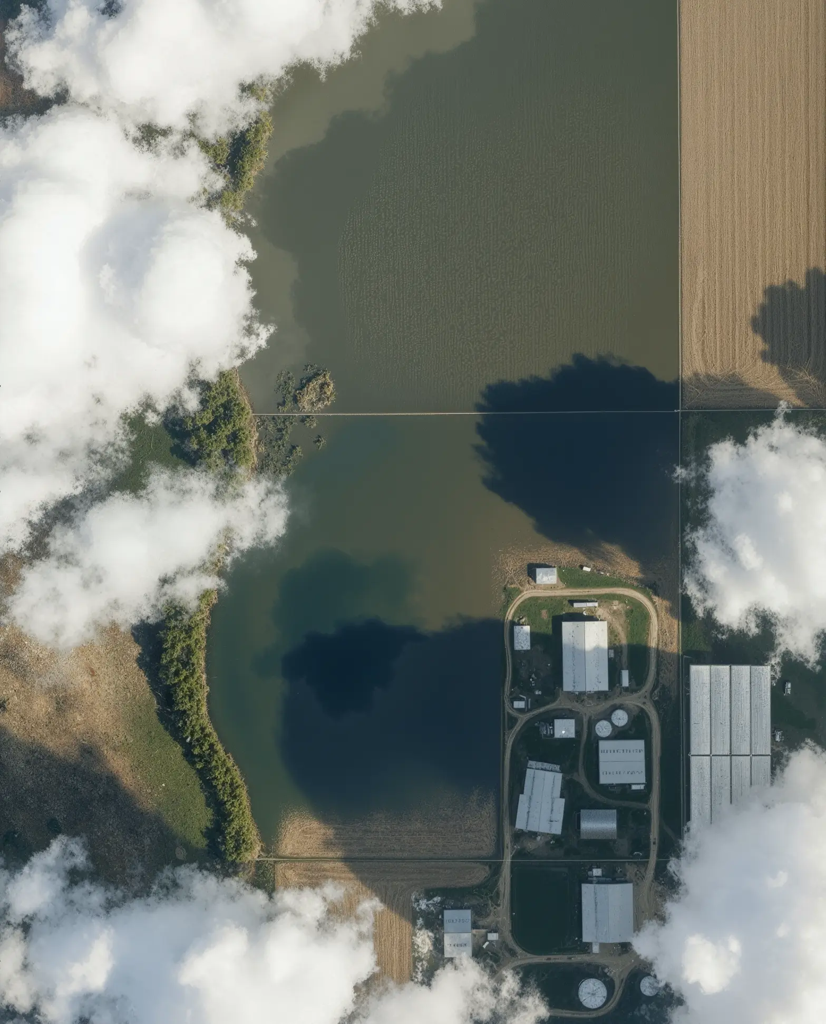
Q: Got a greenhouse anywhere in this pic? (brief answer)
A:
Yes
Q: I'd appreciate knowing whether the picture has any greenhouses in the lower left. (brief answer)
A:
No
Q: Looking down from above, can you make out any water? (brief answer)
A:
Yes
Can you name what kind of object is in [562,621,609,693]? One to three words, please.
barn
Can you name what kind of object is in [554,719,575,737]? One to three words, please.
shed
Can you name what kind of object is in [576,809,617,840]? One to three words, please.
shed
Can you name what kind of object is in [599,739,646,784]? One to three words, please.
barn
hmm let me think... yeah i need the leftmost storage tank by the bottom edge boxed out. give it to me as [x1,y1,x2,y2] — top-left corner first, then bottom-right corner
[578,978,607,1008]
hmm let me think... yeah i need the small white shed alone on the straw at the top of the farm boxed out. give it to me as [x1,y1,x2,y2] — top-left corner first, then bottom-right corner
[536,568,557,584]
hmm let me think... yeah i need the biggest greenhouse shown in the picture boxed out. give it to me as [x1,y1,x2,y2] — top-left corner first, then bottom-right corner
[690,665,771,848]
